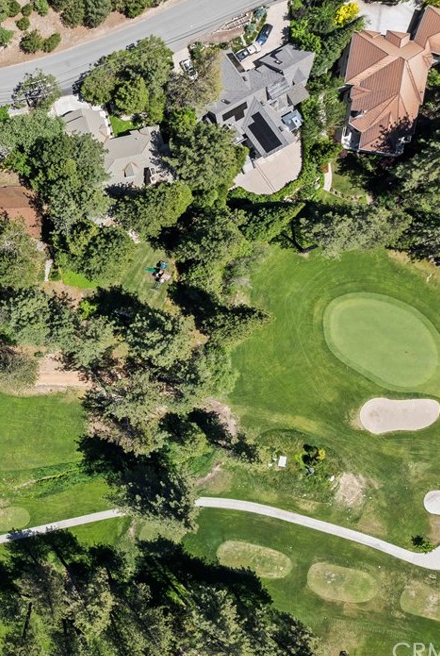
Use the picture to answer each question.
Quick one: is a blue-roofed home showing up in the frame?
No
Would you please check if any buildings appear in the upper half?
Yes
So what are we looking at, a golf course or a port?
golf course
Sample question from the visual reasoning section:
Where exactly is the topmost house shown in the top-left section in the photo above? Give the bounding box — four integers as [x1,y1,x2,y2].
[60,109,171,188]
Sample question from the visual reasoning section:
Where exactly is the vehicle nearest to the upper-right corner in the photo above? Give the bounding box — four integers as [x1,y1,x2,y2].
[257,19,275,44]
